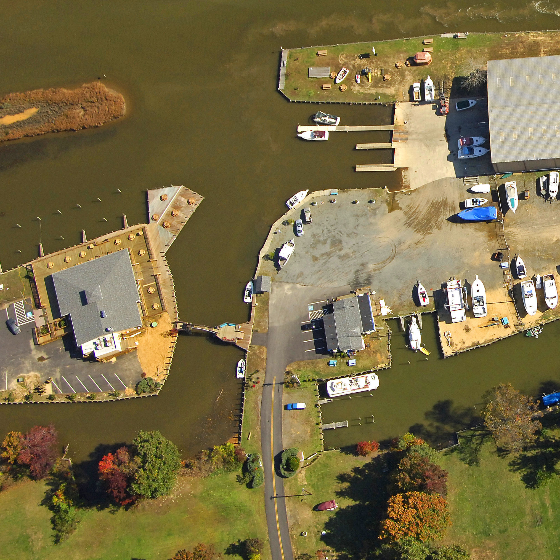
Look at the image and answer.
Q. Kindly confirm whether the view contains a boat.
Yes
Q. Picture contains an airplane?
No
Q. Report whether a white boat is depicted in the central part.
Yes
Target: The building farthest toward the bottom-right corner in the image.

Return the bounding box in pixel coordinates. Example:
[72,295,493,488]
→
[324,288,380,358]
